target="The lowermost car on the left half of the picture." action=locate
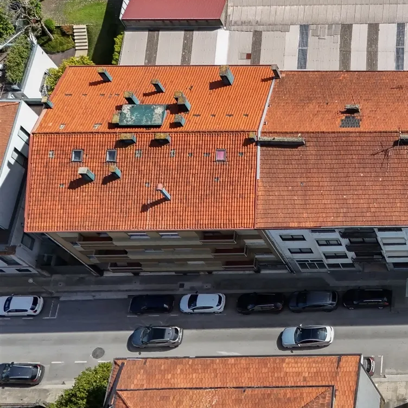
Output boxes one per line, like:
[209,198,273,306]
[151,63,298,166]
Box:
[0,359,49,386]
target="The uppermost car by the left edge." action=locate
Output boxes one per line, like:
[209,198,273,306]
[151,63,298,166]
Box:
[0,293,47,317]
